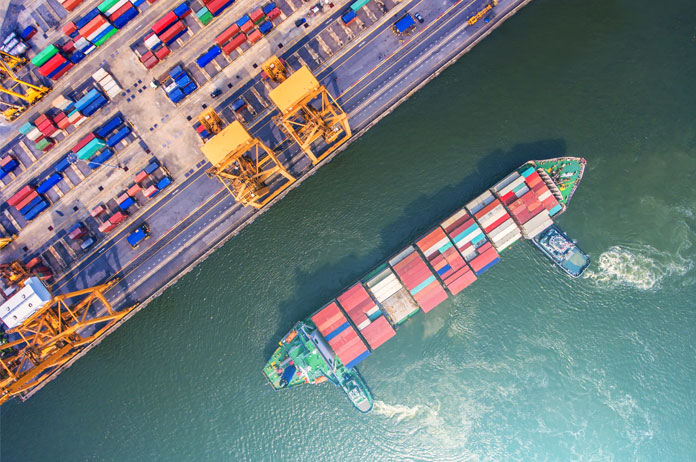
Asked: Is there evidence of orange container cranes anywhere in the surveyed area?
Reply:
Yes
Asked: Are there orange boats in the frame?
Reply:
No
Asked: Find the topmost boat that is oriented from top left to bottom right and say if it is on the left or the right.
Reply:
right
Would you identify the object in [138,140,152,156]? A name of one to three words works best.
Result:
vehicle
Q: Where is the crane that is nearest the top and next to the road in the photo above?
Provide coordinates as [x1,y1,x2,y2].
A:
[0,51,47,105]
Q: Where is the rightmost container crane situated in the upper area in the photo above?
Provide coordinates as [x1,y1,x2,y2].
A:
[268,56,364,174]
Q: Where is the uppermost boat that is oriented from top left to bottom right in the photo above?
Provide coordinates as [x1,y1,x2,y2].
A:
[531,226,591,282]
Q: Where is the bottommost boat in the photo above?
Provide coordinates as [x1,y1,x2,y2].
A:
[336,362,376,416]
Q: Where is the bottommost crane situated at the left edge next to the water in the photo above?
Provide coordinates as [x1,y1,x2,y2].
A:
[0,272,139,399]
